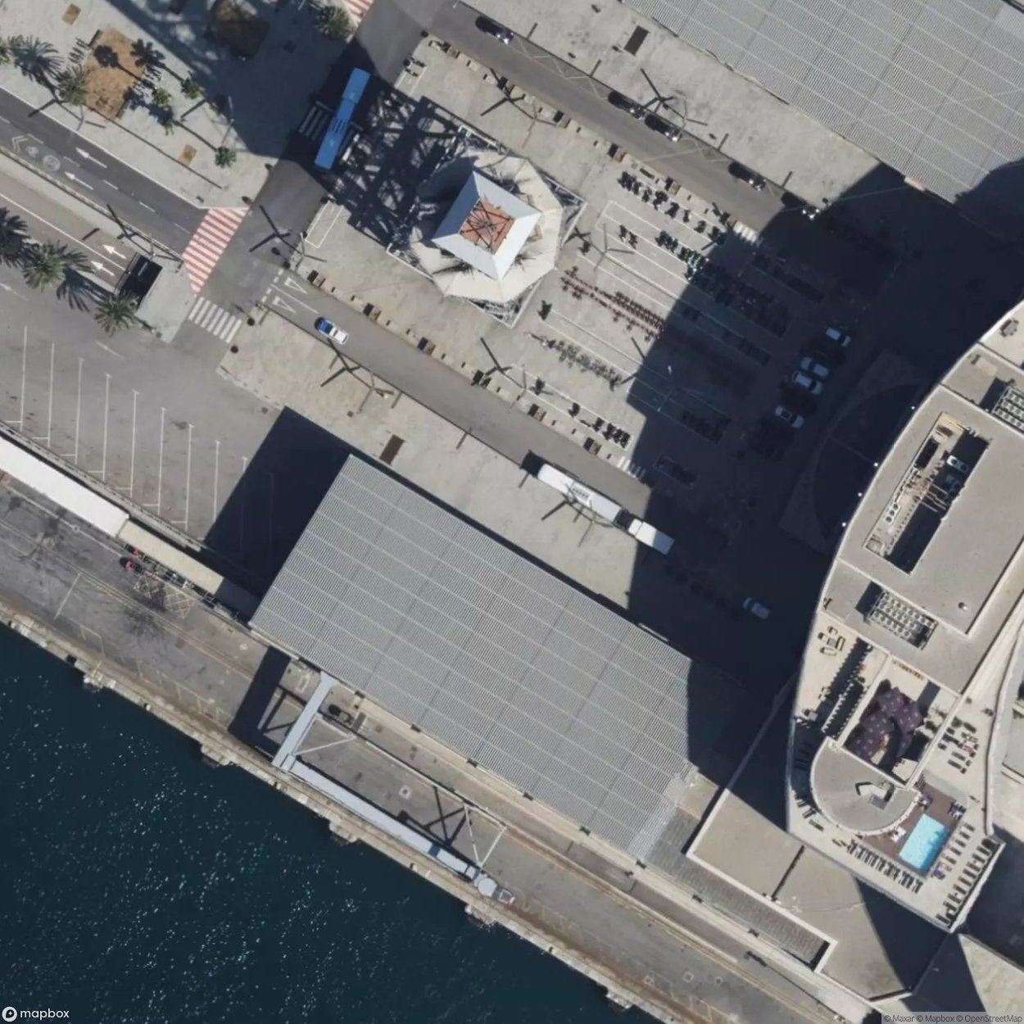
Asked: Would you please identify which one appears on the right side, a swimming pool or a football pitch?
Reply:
swimming pool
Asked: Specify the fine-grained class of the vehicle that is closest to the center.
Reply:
bus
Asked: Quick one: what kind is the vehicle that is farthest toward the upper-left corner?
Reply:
bus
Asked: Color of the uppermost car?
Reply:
black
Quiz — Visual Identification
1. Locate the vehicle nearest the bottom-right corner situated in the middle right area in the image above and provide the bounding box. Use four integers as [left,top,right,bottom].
[740,596,772,621]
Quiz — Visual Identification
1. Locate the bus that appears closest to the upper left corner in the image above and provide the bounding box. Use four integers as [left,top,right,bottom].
[315,69,371,170]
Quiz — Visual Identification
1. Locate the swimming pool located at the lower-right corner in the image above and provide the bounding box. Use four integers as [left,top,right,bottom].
[898,812,951,872]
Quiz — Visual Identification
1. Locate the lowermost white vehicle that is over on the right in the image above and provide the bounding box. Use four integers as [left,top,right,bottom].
[625,517,673,554]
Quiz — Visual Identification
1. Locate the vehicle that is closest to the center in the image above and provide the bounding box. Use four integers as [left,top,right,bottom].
[537,463,621,522]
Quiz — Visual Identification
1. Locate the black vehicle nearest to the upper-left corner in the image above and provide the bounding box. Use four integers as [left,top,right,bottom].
[478,16,512,42]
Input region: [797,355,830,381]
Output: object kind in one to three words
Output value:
car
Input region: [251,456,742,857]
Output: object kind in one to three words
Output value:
building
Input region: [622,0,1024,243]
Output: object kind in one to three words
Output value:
building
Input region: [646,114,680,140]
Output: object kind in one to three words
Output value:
car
